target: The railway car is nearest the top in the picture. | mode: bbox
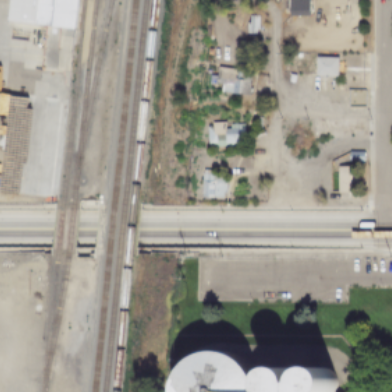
[150,0,163,30]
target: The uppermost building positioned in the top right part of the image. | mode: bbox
[290,0,312,15]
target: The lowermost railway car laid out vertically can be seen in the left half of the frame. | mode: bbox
[114,347,126,389]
